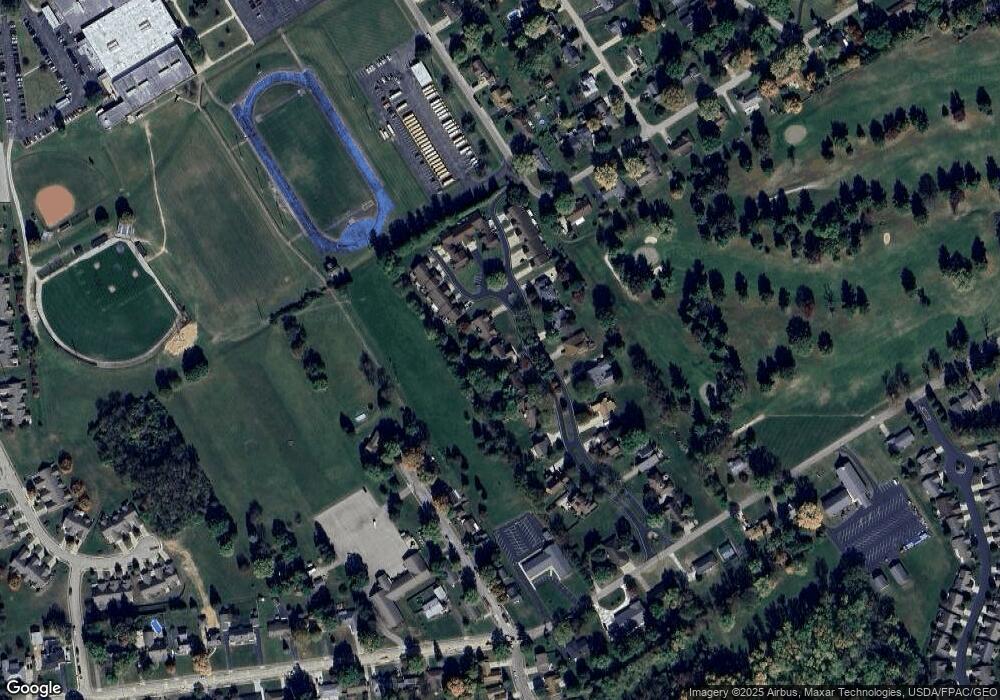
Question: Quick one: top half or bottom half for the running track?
top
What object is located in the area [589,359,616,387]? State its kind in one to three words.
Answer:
house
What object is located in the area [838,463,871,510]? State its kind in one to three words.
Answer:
building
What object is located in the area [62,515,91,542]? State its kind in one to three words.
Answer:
house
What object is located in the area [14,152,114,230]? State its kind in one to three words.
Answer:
baseball field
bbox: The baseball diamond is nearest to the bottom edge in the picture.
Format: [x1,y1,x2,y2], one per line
[37,238,184,367]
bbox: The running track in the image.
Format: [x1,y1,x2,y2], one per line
[229,66,396,257]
